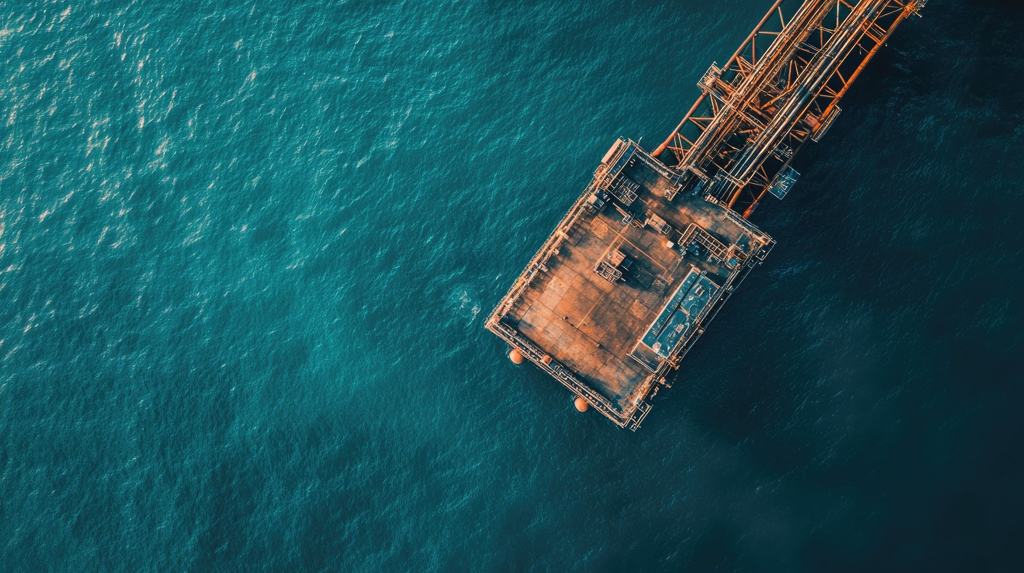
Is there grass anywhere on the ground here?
No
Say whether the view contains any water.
Yes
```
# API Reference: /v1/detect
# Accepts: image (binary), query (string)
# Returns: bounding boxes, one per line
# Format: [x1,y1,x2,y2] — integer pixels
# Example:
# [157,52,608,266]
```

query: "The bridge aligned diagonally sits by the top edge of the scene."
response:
[651,0,918,219]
